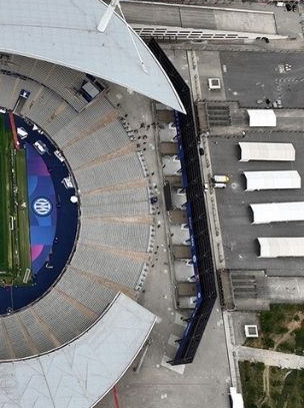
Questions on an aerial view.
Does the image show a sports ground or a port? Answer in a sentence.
The picture captures a sports ground.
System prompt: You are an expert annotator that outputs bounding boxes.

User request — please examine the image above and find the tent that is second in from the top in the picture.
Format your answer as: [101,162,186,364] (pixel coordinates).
[236,144,295,163]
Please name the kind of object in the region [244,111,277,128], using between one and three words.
tent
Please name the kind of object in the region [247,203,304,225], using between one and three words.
tent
